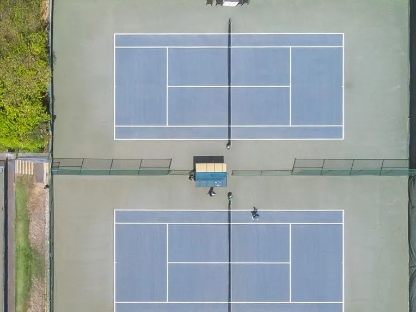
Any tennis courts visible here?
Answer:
Yes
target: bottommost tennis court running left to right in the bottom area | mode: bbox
[52,175,409,312]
